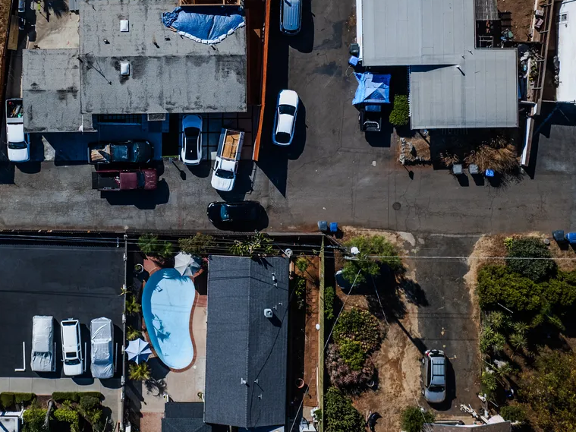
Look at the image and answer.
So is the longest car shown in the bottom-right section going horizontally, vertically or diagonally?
vertically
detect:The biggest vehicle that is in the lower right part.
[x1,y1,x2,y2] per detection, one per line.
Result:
[421,348,450,406]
